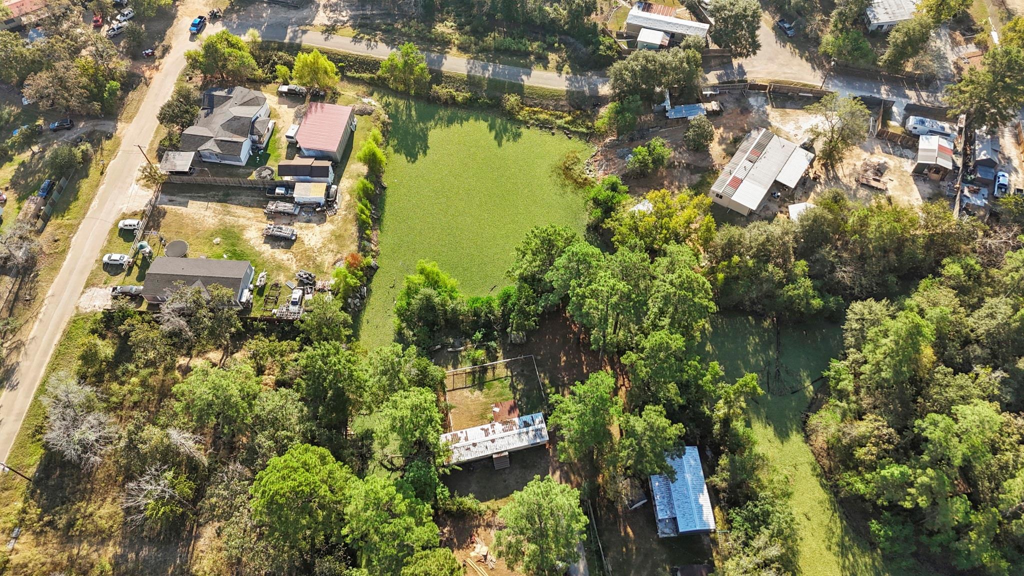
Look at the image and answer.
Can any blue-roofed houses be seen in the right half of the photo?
Yes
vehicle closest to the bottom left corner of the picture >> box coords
[110,285,142,297]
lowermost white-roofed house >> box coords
[440,412,549,477]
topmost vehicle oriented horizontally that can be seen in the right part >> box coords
[904,116,956,143]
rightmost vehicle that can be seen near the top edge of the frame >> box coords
[776,20,796,36]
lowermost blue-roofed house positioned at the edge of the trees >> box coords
[646,445,715,537]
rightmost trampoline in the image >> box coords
[255,166,274,180]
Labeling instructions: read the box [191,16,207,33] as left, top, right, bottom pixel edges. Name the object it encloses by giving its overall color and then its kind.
blue vehicle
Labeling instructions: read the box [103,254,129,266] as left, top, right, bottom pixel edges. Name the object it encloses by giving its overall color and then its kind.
white vehicle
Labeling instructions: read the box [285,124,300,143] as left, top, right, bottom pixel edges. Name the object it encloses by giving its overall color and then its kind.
white vehicle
